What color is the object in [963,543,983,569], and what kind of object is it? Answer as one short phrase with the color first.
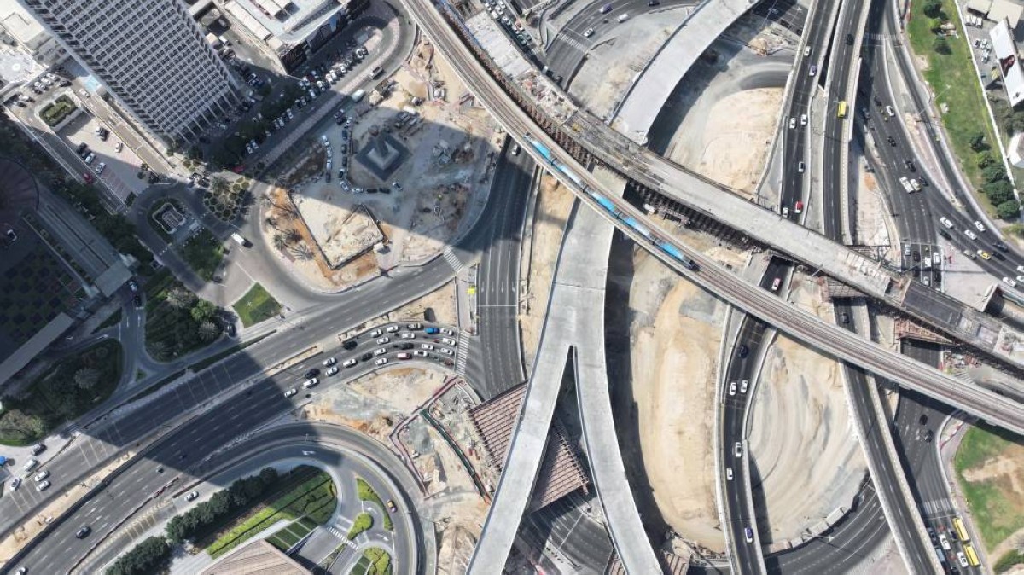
yellow bus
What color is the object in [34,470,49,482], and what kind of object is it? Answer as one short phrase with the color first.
white vehicle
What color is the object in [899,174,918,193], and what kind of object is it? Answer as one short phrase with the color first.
white vehicle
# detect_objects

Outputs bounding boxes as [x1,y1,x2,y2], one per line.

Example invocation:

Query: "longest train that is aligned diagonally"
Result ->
[527,137,697,271]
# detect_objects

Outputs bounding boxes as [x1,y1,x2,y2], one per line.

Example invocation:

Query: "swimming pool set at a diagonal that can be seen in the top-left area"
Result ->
[70,60,108,100]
